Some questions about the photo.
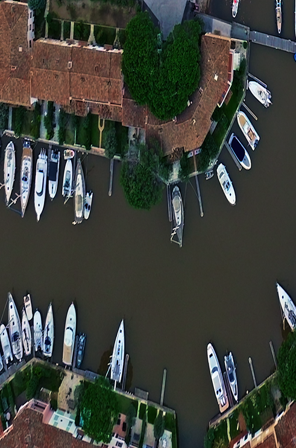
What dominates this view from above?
water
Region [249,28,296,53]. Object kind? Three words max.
pier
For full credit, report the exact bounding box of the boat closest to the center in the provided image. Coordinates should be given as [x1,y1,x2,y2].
[168,184,185,248]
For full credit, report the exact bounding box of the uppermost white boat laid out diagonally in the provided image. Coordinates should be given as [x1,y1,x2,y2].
[249,79,271,111]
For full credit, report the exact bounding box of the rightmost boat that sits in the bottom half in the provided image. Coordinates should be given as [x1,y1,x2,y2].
[277,283,296,330]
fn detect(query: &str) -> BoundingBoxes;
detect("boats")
[0,141,33,218]
[249,79,271,111]
[237,112,260,154]
[105,320,127,382]
[25,291,32,320]
[0,292,24,361]
[216,158,234,206]
[77,330,86,367]
[59,158,85,224]
[233,0,238,18]
[0,140,17,206]
[10,309,32,355]
[168,184,185,248]
[277,283,296,330]
[34,310,43,354]
[62,161,72,201]
[62,302,77,369]
[225,347,237,403]
[49,147,61,201]
[1,324,14,368]
[33,149,50,223]
[85,188,93,219]
[208,343,228,412]
[64,147,75,164]
[33,303,55,356]
[275,0,282,34]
